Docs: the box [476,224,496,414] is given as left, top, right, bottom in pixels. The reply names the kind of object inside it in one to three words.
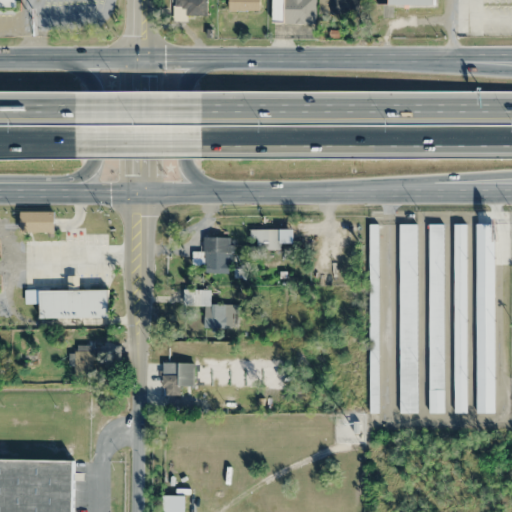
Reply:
building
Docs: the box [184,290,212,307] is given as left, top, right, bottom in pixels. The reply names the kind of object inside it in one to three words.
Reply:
house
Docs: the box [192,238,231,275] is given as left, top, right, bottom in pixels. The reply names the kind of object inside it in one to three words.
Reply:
house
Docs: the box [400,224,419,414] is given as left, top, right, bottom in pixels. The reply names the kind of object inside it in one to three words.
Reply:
building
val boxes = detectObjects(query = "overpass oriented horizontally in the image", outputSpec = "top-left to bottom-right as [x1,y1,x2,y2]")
[0,90,512,160]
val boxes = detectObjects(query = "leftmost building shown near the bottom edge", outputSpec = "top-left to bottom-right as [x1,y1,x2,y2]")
[0,461,74,512]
